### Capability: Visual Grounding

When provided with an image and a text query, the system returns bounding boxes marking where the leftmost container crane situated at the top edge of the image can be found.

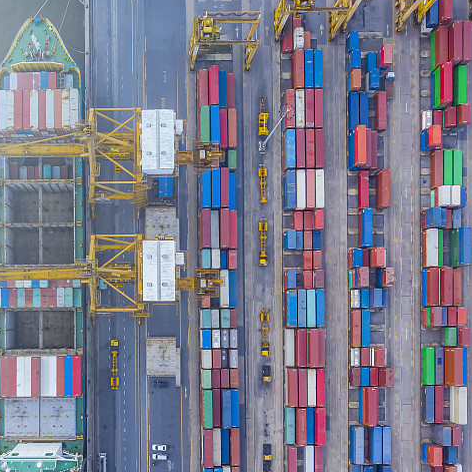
[188,11,261,71]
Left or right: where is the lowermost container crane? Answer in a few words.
left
